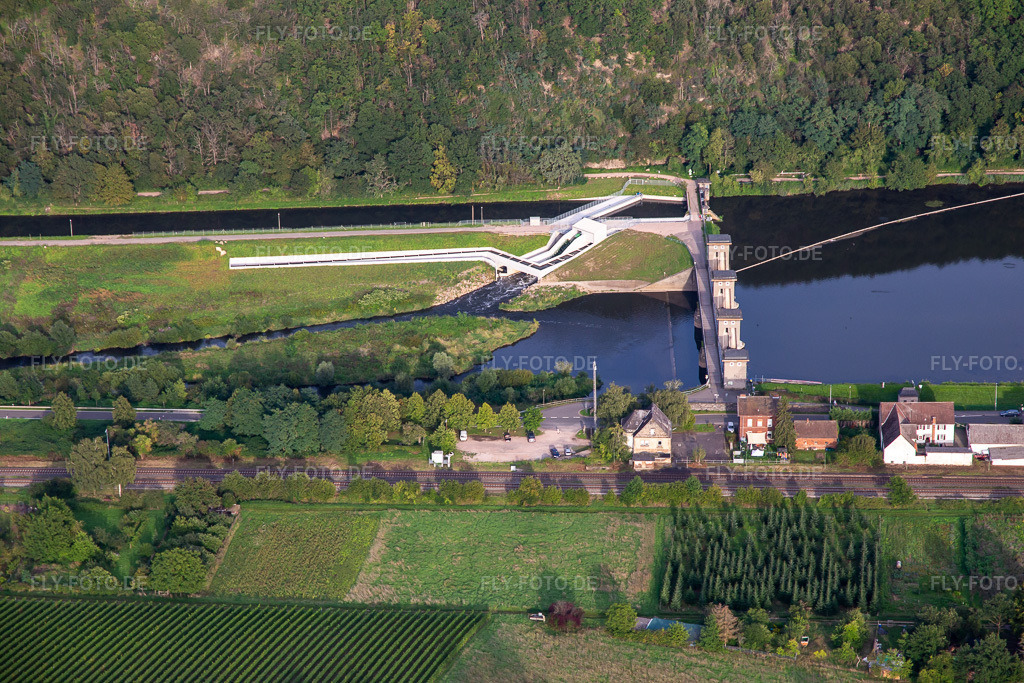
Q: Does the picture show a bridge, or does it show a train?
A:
bridge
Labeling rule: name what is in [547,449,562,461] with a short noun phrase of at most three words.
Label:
vehicle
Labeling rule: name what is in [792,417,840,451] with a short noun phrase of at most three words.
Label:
house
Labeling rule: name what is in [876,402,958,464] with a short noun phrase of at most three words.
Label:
house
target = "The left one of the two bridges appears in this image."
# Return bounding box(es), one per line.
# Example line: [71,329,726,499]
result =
[550,196,642,234]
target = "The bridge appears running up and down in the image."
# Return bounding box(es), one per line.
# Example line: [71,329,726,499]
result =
[693,247,722,387]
